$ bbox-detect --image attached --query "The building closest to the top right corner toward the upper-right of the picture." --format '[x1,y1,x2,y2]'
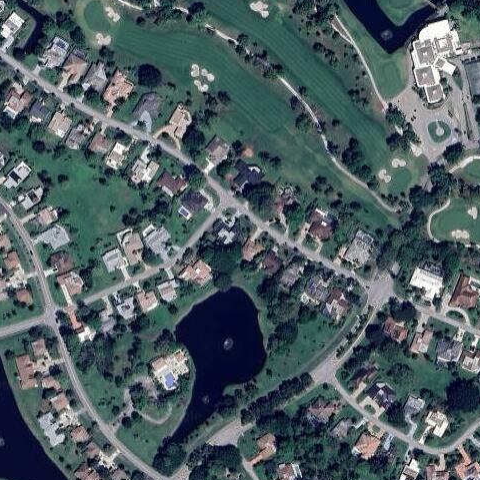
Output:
[412,20,461,103]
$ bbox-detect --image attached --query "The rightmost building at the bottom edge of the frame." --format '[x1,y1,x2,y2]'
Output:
[455,459,480,480]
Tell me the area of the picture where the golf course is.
top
